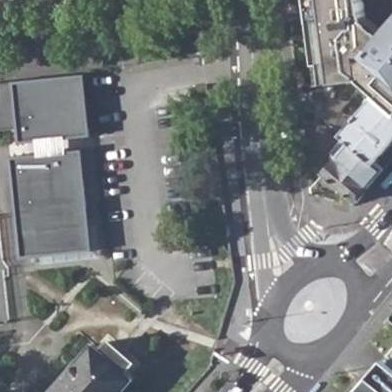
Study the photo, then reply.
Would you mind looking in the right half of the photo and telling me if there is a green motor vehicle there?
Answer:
No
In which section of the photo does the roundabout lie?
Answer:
bottom right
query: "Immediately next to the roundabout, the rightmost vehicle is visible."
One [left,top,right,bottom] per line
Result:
[378,211,392,230]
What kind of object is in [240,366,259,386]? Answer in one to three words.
car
